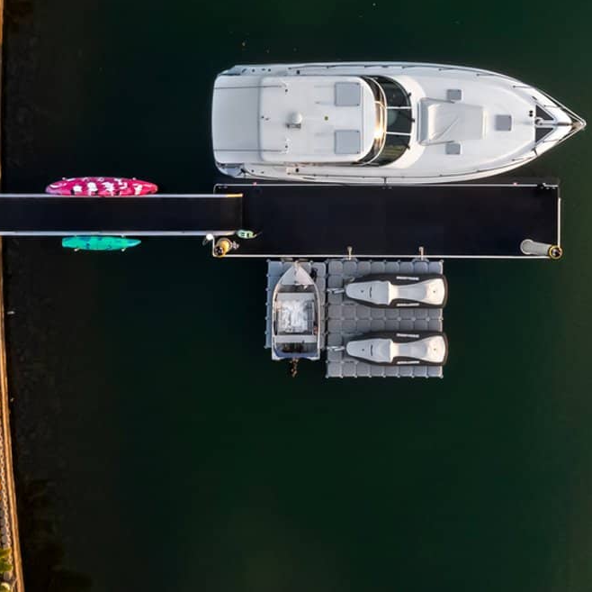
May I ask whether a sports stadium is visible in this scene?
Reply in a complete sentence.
No, I find no sports stadium anywhere in the image.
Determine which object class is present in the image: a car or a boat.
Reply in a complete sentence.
Looking from above, you can make out a boat.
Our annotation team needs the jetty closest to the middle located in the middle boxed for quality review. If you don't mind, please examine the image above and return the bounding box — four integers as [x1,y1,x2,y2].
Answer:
[266,260,327,350]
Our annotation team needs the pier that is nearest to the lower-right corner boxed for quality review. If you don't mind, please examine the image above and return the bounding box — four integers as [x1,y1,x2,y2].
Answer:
[325,260,444,379]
